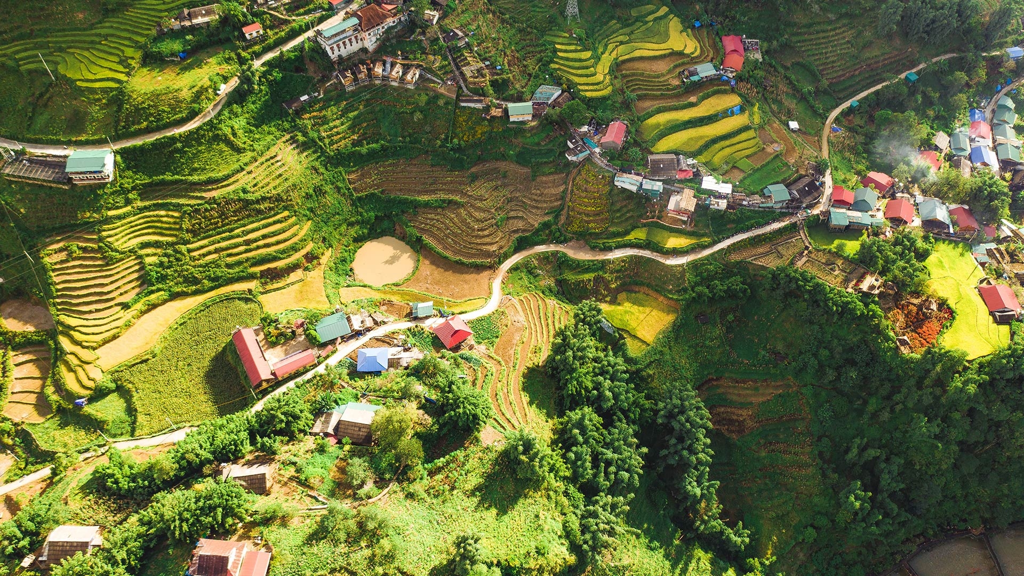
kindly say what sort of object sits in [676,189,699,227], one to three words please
house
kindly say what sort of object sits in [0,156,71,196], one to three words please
shed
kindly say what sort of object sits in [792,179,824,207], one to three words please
building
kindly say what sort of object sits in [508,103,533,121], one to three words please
house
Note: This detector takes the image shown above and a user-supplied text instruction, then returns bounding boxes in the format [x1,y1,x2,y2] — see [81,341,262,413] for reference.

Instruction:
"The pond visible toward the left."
[353,240,418,288]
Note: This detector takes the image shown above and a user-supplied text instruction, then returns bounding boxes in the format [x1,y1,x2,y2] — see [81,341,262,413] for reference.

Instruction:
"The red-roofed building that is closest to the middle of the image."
[433,316,472,353]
